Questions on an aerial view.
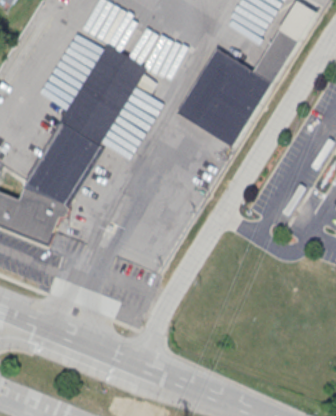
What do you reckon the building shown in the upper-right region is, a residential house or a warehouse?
warehouse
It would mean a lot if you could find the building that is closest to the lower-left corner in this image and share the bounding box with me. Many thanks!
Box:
[0,188,70,245]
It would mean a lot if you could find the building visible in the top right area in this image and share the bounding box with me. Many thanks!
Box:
[178,1,320,147]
